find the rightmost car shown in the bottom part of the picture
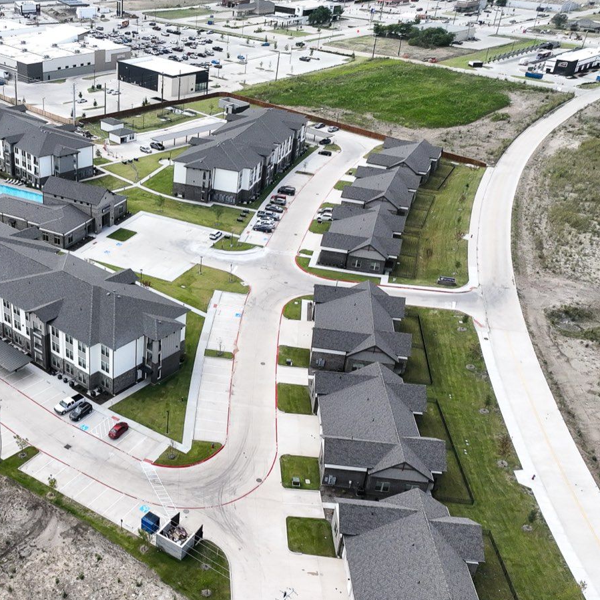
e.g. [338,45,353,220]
[107,417,130,436]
